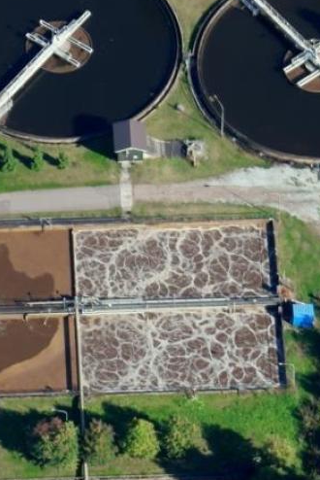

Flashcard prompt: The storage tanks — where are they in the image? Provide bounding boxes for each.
[0,0,181,145]
[193,0,320,165]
